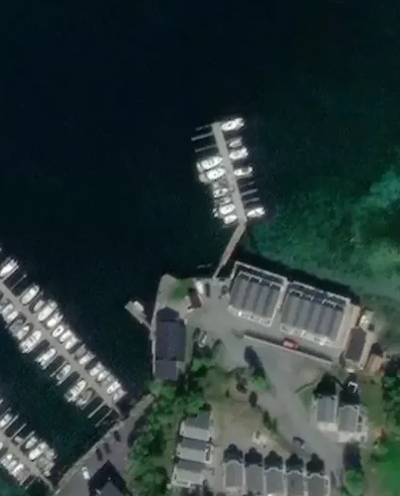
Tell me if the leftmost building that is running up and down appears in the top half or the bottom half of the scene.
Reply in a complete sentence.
The leftmost building that is running up and down sits in the bottom half of the picture.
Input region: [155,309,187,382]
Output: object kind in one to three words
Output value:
building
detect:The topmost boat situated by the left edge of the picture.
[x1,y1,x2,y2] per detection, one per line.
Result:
[0,260,17,276]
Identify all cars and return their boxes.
[80,468,90,481]
[293,437,306,446]
[113,430,122,444]
[103,442,112,455]
[283,340,297,348]
[204,284,211,297]
[199,332,208,345]
[94,448,104,461]
[192,328,201,340]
